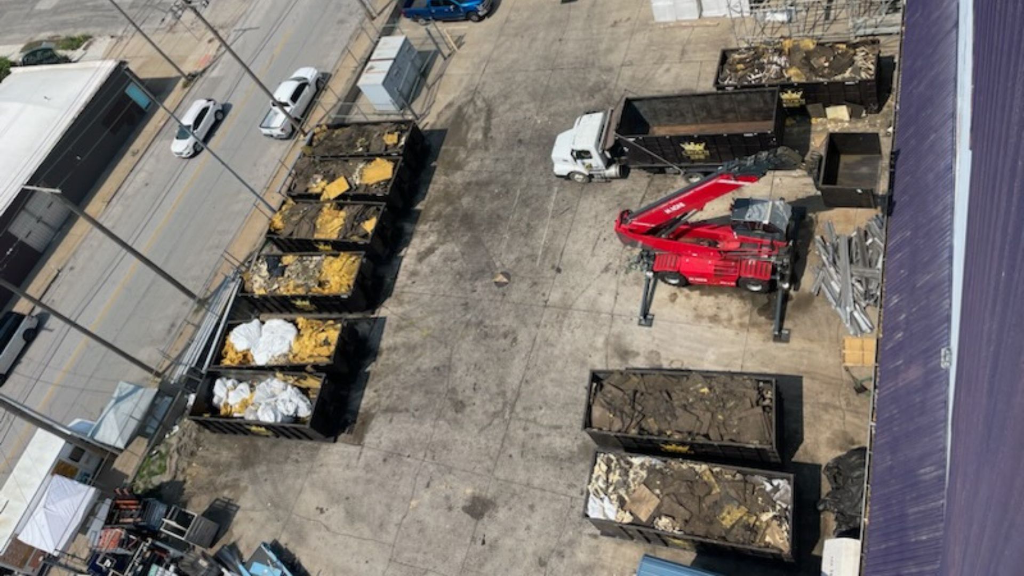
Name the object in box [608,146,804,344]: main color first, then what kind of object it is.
red work vehicle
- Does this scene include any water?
No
